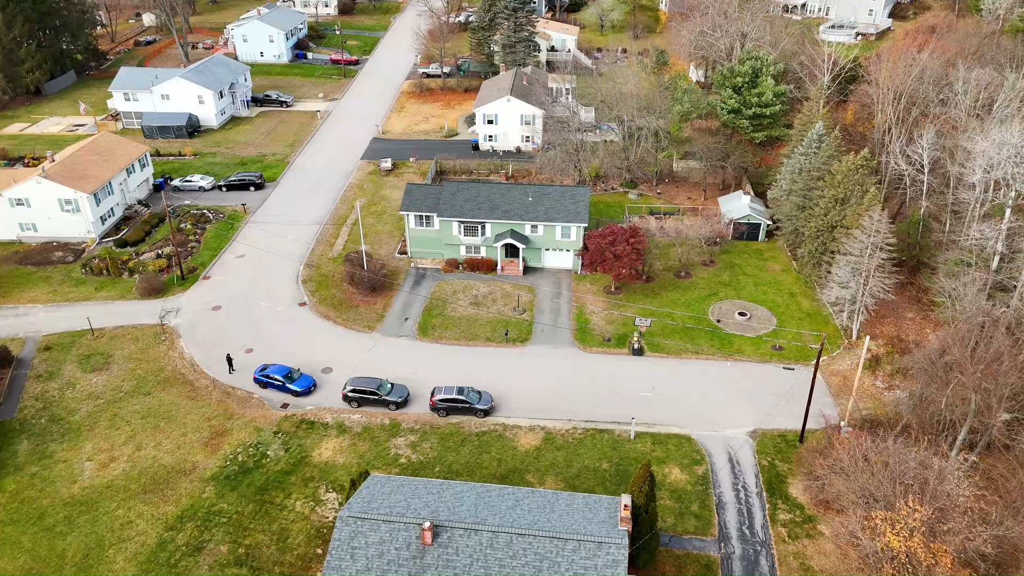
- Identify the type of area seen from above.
residential area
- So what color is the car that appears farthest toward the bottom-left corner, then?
blue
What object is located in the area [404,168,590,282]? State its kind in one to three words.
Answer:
building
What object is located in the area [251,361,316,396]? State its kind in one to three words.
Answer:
car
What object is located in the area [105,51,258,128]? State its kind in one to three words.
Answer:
house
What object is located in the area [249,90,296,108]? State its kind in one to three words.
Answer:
vehicle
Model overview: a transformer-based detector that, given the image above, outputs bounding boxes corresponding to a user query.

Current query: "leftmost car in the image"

[169,172,216,191]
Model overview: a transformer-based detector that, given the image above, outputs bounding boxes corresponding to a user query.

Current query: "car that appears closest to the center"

[428,382,496,418]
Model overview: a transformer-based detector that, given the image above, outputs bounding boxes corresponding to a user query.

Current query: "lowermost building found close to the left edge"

[0,128,156,247]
